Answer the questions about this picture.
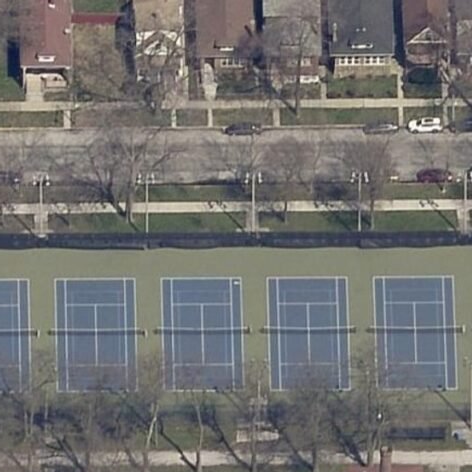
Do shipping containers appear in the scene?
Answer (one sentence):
No, I can see no shipping container in this picture.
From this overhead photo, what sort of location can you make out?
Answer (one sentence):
This looks like a residential area.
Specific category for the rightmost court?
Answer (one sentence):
I'd identify the rightmost court as a tennis court.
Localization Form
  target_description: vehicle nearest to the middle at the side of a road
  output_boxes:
[226,122,261,137]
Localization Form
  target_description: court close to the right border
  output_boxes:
[372,275,458,389]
